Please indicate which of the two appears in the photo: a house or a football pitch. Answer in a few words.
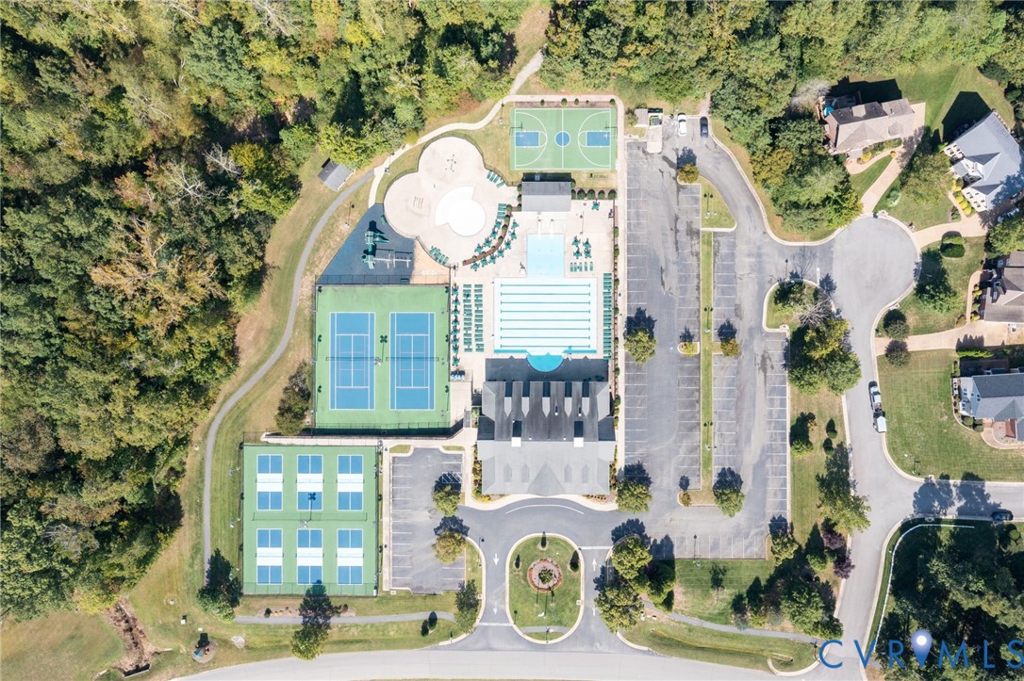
house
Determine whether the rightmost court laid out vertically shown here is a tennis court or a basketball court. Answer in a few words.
tennis court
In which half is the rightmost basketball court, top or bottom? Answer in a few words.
top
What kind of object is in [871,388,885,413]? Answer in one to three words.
vehicle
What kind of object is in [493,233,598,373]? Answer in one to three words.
swimming pool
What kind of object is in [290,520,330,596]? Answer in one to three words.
sports court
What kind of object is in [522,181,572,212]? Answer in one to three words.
building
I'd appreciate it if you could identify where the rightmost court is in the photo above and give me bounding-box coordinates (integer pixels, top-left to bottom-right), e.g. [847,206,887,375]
[510,107,616,170]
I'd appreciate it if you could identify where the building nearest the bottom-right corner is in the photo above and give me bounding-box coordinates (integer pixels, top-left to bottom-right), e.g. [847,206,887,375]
[952,376,1024,447]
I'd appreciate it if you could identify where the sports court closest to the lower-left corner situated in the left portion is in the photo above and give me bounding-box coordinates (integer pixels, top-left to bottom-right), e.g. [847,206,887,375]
[243,520,290,596]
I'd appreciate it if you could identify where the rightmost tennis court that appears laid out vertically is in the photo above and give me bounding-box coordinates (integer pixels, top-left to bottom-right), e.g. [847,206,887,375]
[382,286,449,431]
